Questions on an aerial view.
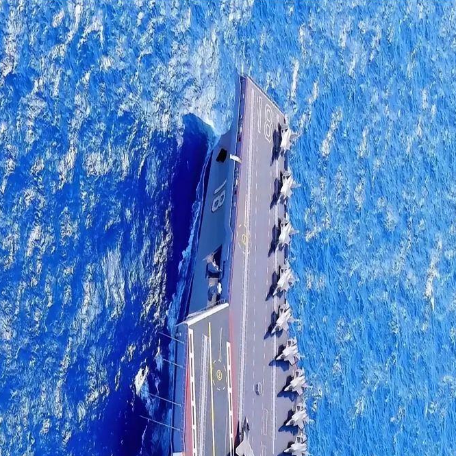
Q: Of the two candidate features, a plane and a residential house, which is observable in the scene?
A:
plane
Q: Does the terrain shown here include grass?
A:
No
